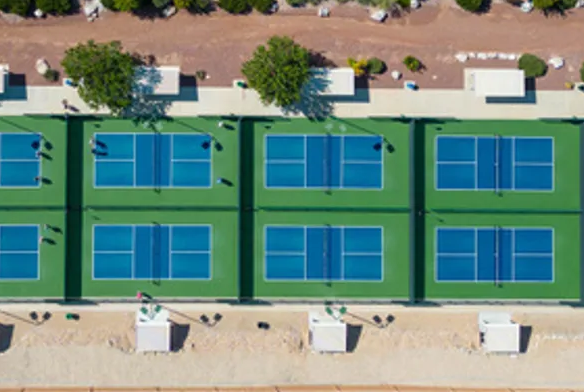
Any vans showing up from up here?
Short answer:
No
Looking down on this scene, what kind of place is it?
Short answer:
sports ground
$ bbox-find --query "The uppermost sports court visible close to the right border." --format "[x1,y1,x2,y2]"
[414,118,581,211]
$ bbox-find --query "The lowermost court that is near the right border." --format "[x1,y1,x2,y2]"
[414,211,581,300]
